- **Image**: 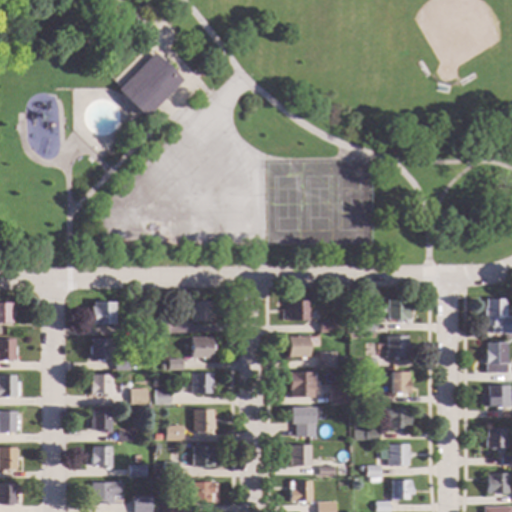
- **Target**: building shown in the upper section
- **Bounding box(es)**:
[121,54,180,111]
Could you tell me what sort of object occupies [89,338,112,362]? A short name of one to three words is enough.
house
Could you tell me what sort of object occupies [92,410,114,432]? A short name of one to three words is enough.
house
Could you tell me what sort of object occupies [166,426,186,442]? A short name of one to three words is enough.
building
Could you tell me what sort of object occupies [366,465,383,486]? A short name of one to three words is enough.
building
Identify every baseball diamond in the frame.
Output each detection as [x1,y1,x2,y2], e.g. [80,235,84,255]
[414,0,502,82]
